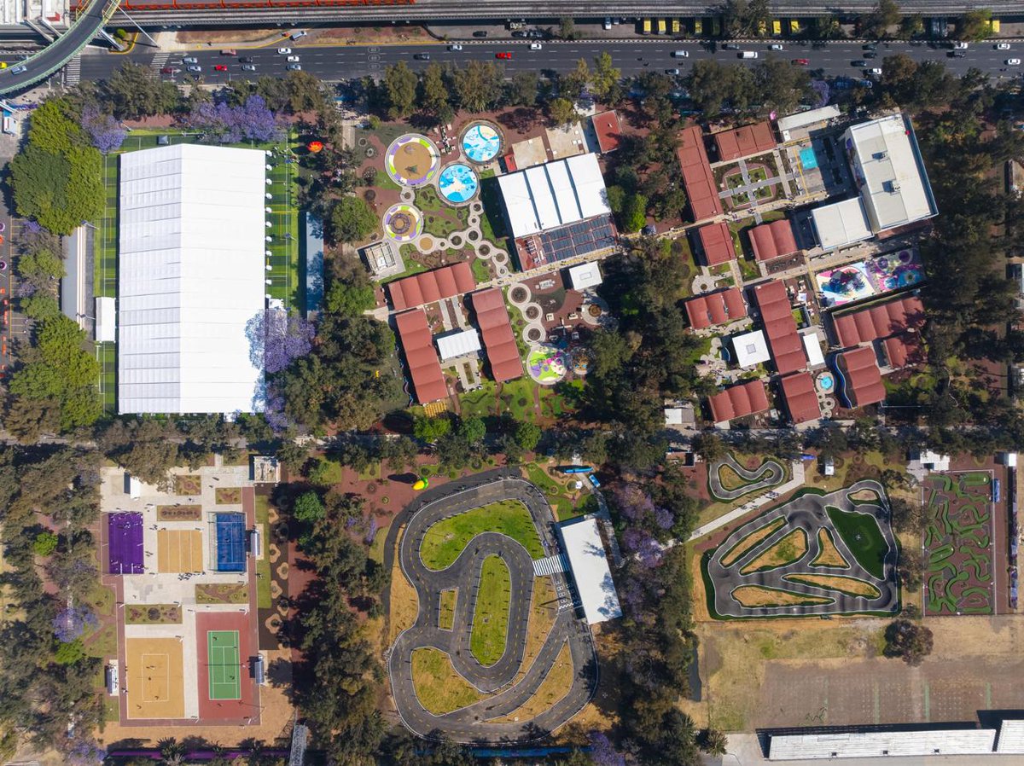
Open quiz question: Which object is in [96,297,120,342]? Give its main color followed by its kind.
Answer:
white tent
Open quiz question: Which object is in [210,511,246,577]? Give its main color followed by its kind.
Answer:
blue sports court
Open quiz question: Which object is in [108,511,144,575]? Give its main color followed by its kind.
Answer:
purple sports court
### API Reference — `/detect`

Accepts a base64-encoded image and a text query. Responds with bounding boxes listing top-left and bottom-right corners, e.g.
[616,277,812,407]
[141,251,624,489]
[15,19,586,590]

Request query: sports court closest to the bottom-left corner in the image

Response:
[126,637,185,719]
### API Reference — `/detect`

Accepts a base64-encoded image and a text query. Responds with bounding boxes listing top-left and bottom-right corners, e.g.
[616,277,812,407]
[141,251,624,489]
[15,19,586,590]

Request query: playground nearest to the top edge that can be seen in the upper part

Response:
[385,133,440,188]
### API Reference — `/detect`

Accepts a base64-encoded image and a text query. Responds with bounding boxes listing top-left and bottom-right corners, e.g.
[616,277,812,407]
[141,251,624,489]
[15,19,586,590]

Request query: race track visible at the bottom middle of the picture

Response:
[390,479,598,744]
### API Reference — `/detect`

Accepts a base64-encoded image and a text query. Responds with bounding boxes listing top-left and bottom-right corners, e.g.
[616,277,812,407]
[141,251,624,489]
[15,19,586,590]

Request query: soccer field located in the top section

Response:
[94,128,300,420]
